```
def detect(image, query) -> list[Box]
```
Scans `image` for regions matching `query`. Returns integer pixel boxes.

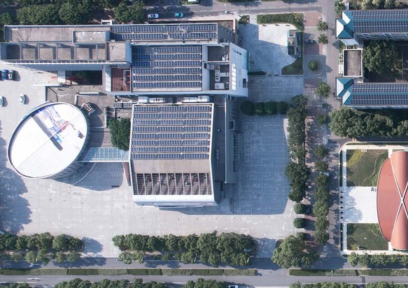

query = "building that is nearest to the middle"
[114,95,236,205]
